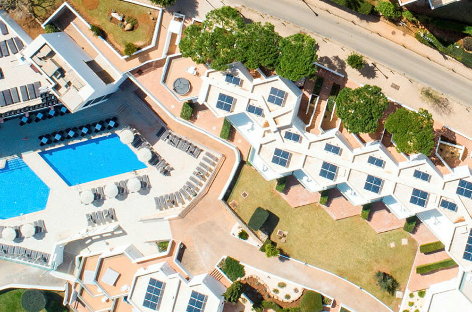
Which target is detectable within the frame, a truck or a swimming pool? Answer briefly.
swimming pool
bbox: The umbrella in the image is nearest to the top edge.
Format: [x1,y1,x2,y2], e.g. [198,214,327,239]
[118,128,136,145]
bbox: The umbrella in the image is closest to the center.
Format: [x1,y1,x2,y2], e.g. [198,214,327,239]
[136,146,154,163]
